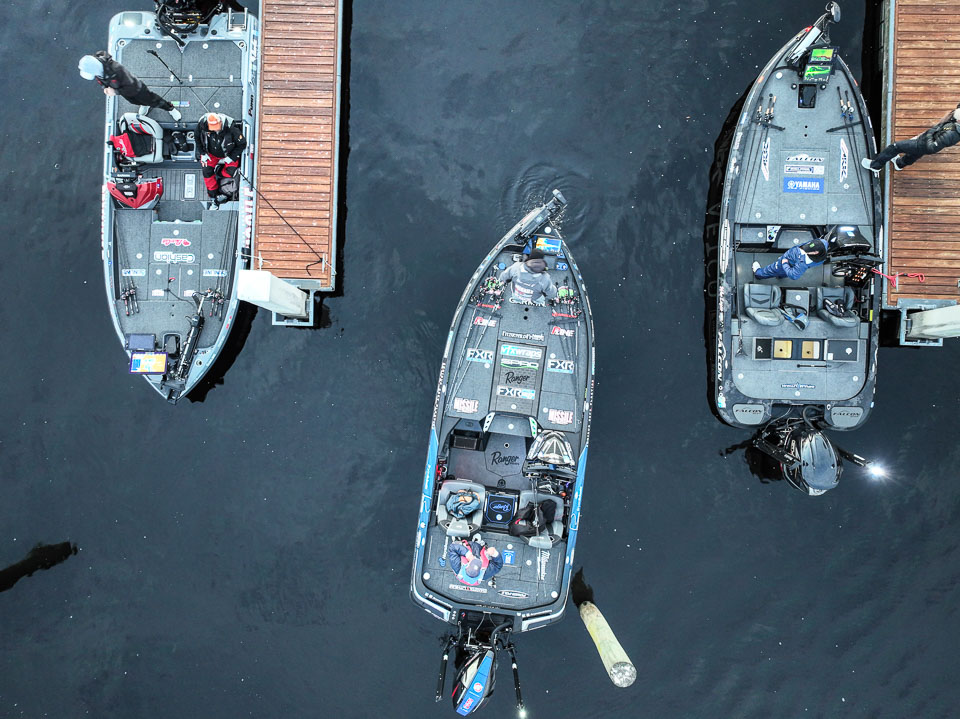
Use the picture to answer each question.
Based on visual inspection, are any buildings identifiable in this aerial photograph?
No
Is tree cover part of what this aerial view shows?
No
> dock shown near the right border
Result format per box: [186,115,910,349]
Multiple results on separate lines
[877,0,960,346]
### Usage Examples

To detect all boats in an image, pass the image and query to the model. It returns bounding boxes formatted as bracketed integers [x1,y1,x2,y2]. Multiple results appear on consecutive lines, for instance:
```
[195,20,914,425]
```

[99,0,255,407]
[712,1,883,496]
[410,188,596,716]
